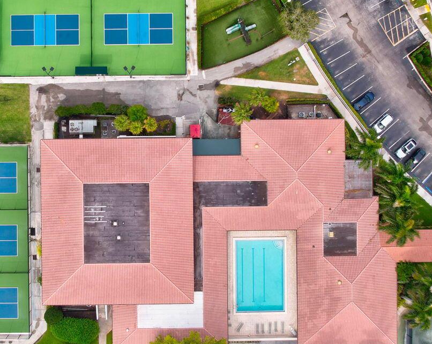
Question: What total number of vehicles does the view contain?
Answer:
4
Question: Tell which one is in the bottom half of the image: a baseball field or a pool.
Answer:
pool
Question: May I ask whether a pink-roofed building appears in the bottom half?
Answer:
Yes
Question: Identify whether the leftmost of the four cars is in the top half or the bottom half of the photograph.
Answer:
top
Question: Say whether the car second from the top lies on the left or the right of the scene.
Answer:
right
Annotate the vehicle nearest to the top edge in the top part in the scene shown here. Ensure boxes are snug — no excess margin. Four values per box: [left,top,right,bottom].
[353,89,377,111]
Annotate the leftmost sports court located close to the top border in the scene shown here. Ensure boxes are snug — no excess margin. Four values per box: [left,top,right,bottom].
[0,0,91,76]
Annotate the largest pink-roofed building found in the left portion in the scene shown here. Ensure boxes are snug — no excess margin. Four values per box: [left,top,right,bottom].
[40,137,194,306]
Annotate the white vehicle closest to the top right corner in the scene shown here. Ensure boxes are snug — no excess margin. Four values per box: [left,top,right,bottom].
[373,111,396,135]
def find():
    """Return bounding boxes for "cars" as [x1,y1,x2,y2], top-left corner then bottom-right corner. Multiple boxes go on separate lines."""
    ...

[406,147,430,170]
[353,89,377,111]
[373,111,396,135]
[394,136,419,160]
